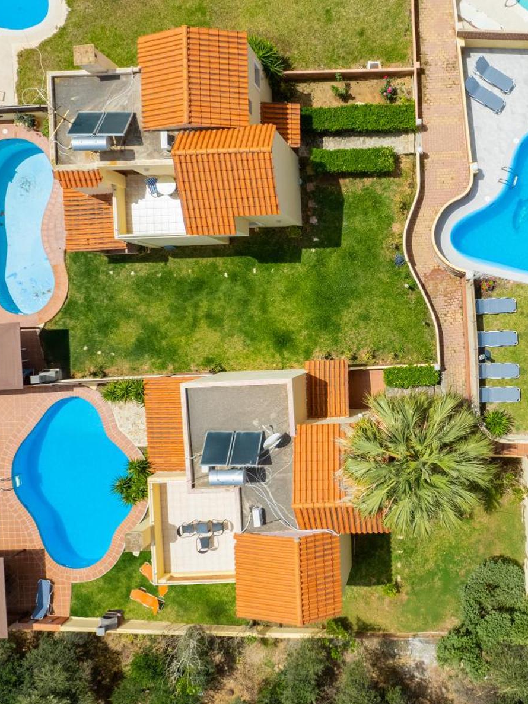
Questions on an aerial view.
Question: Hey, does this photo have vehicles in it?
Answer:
No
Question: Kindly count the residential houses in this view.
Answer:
2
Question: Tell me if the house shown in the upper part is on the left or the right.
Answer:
left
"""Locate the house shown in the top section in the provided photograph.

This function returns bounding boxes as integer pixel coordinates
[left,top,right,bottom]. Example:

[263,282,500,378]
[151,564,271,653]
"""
[49,23,305,255]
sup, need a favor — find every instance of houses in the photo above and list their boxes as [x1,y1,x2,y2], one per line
[117,359,390,630]
[49,23,305,255]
